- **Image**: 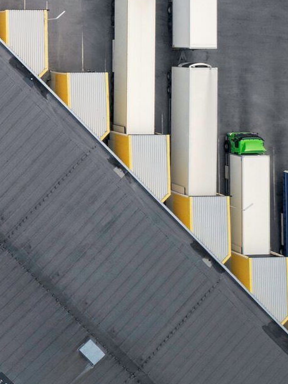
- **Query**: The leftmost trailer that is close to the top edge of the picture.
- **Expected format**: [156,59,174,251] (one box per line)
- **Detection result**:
[108,0,156,133]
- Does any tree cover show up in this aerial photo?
No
